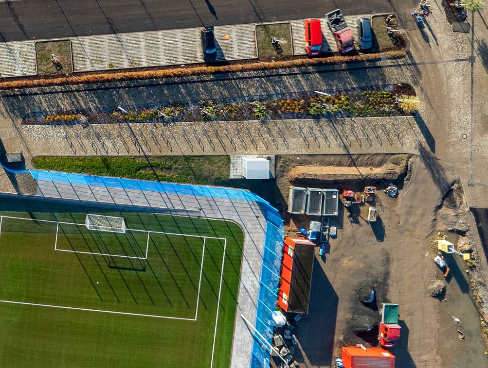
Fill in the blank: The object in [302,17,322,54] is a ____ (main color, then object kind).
red vehicle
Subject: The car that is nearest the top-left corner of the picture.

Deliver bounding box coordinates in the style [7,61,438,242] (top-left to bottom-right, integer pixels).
[202,23,218,59]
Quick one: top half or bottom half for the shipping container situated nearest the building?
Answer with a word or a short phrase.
bottom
